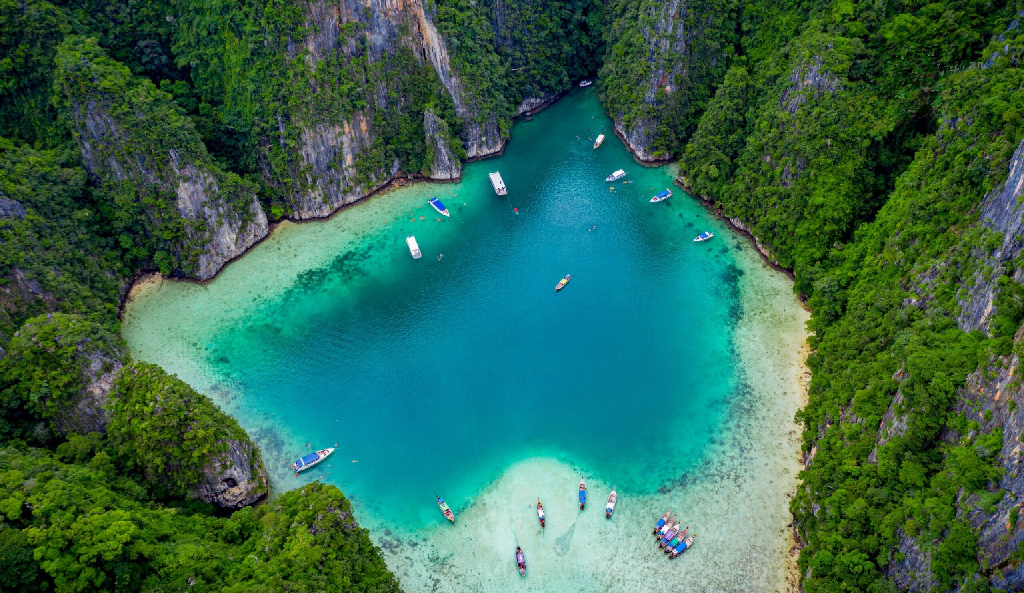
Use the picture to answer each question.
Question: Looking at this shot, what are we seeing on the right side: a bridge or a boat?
boat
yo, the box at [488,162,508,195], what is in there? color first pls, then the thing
white boat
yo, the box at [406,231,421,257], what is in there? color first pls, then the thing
white boat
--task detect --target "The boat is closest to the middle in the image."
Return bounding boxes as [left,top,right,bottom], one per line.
[555,272,572,289]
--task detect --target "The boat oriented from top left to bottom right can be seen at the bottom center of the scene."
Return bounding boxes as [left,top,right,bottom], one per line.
[435,495,453,521]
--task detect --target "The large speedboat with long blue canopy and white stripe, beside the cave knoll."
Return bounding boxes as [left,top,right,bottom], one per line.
[292,446,334,471]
